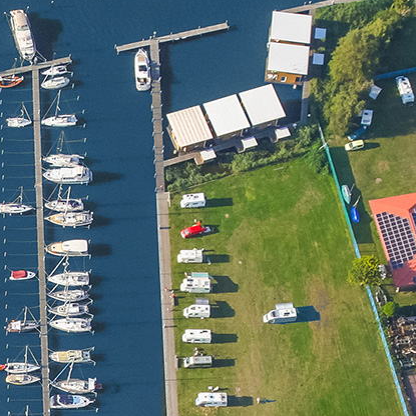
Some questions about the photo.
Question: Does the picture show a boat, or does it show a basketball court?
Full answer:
Of the two, only a boat appears.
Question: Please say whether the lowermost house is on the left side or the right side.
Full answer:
The lowermost house appears in the right half of the scene.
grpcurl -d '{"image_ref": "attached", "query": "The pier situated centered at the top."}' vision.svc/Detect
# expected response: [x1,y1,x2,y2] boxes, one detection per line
[116,21,230,191]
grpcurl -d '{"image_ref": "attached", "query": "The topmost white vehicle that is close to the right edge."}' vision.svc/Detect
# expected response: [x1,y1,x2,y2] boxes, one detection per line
[396,79,413,108]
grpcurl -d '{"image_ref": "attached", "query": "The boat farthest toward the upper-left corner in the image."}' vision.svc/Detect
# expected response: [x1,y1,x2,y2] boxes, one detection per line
[10,8,35,59]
